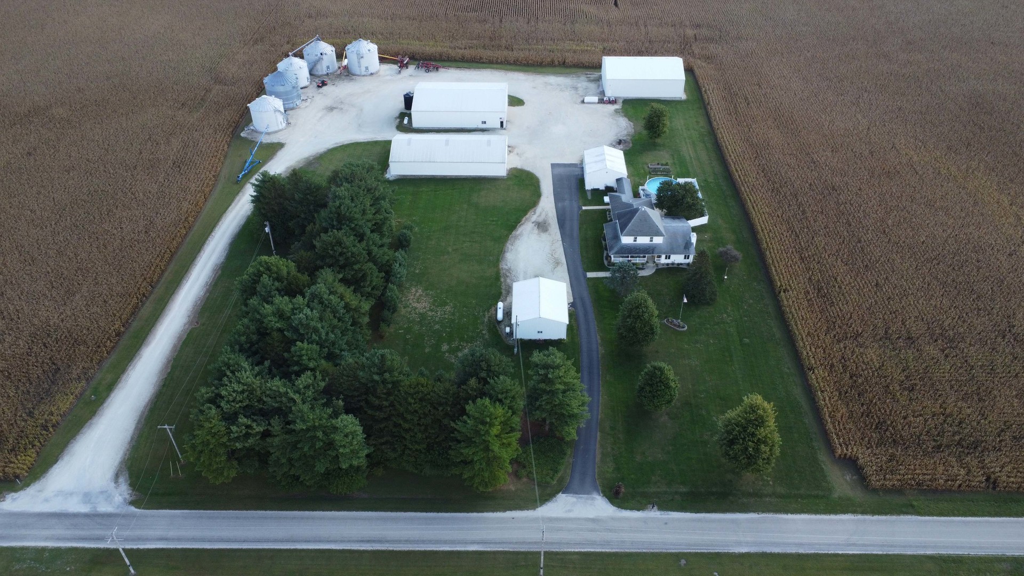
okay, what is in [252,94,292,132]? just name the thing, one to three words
silo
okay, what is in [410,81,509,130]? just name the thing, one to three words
shed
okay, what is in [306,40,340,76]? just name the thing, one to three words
silo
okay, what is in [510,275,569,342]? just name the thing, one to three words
building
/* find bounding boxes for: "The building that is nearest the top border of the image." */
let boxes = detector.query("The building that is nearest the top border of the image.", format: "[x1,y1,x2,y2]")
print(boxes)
[601,56,687,100]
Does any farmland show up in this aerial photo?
Yes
